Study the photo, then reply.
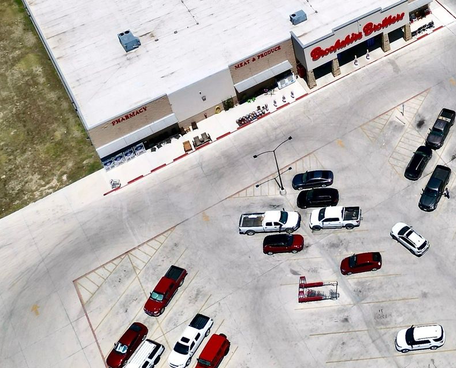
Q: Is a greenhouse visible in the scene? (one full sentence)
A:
No, the picture doesn't show any greenhouse.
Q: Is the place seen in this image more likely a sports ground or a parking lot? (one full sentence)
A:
This image shows a parking lot.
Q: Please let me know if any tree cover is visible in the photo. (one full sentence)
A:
No, the picture contains no tree cover.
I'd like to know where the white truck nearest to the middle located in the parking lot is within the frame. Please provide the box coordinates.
[236,208,301,238]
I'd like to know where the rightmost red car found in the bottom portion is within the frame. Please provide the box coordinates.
[340,251,385,279]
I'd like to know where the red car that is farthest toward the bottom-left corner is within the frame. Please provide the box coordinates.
[106,323,151,368]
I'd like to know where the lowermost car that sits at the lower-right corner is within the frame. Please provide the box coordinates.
[394,324,447,356]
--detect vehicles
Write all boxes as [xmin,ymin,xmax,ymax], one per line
[261,233,306,259]
[308,207,361,233]
[146,266,187,319]
[106,323,151,368]
[340,251,385,279]
[195,334,229,368]
[392,225,430,259]
[296,186,341,212]
[420,166,450,212]
[428,109,455,150]
[404,147,431,183]
[394,324,447,356]
[292,172,334,193]
[168,313,214,368]
[236,208,301,238]
[125,338,164,368]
